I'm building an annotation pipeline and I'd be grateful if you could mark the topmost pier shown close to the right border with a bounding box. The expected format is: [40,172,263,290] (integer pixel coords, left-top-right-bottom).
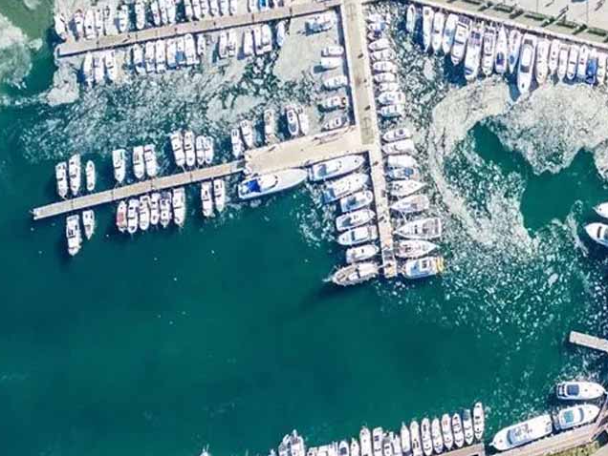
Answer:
[569,331,608,352]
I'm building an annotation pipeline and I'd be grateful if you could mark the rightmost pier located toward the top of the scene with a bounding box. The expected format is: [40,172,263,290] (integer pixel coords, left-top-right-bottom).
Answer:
[342,0,400,279]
